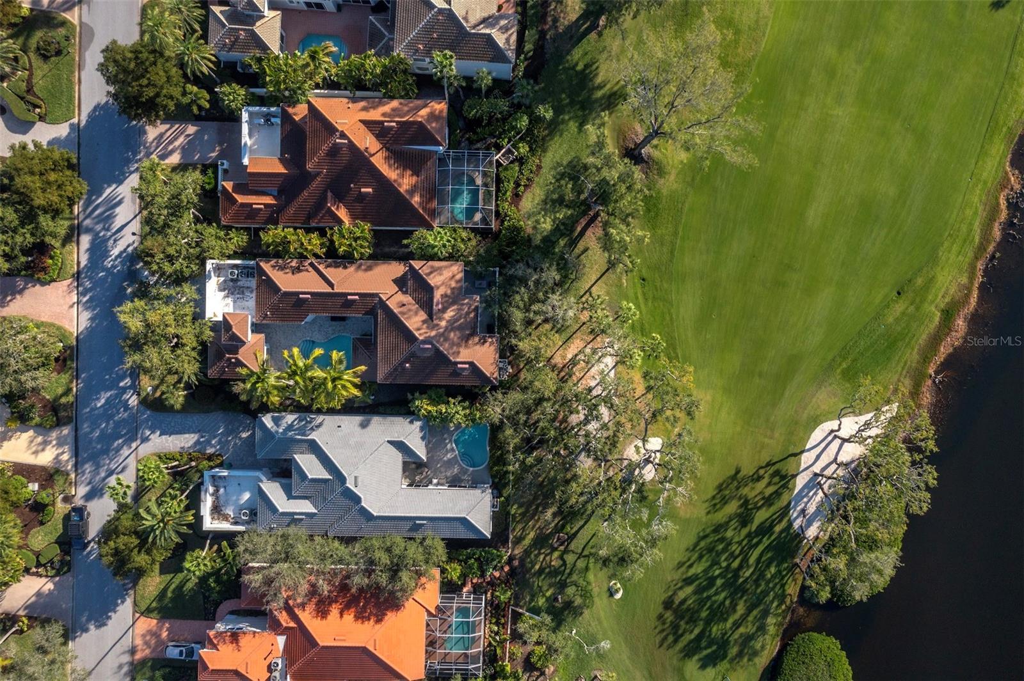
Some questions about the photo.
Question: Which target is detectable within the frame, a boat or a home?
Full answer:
Visible in the photo is a home.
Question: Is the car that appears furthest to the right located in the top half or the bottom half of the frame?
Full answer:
The car that appears furthest to the right sits in the bottom half of the picture.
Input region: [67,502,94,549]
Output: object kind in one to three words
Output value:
truck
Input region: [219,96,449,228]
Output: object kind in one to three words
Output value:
house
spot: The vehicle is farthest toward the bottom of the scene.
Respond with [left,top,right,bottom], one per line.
[168,640,206,660]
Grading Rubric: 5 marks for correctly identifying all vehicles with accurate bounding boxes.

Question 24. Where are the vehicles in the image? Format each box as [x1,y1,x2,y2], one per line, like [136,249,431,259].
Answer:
[67,502,94,549]
[168,640,206,660]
